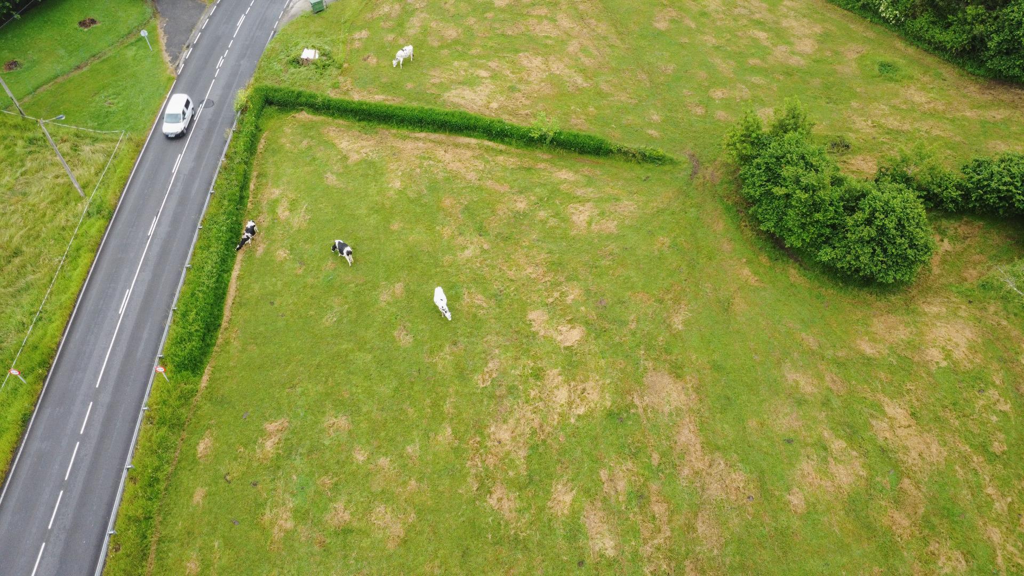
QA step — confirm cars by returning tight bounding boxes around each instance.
[158,92,194,138]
